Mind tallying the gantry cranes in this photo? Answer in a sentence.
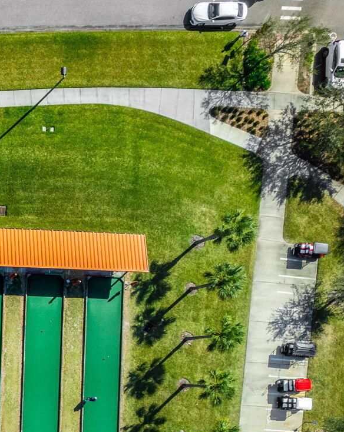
I count no gantry cranes.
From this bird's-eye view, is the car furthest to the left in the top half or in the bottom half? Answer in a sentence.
Seen from above, the car furthest to the left lies in the top half of the view.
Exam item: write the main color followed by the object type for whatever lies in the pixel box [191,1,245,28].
white car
